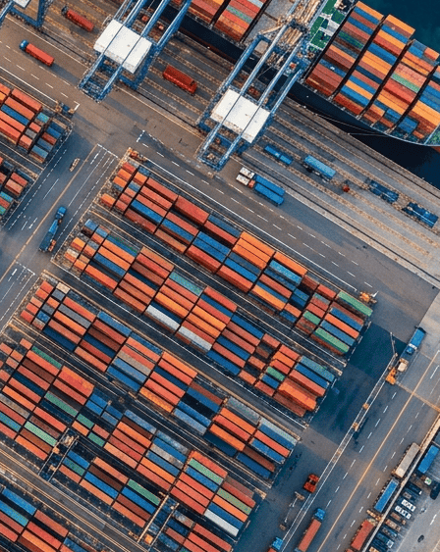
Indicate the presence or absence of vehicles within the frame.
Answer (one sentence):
Yes, there's a vehicle down there.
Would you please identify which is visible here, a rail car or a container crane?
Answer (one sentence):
Looking from above, you can make out a container crane.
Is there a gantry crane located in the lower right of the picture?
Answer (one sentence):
No, there is no gantry crane in the lower right of the picture.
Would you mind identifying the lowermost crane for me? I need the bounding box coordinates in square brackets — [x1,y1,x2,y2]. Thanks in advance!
[129,493,179,552]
